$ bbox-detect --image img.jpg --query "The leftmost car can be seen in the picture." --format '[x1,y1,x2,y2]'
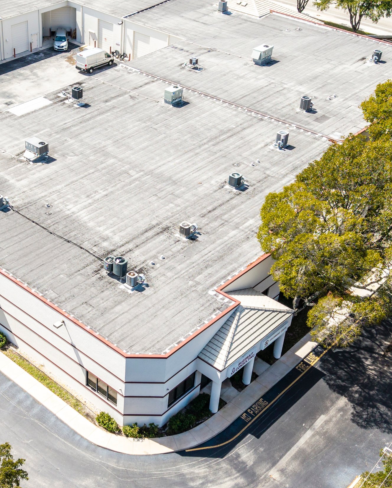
[50,27,71,50]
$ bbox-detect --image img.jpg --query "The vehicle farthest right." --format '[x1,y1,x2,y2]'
[72,44,116,73]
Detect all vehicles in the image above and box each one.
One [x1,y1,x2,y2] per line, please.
[72,44,116,73]
[50,27,71,50]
